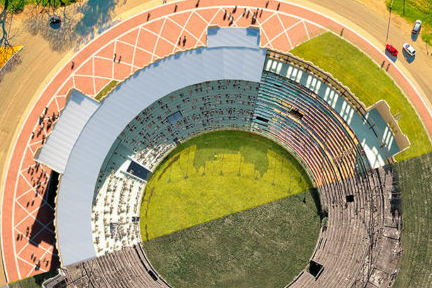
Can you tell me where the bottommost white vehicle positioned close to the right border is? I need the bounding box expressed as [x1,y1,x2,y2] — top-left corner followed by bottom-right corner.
[401,42,415,57]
